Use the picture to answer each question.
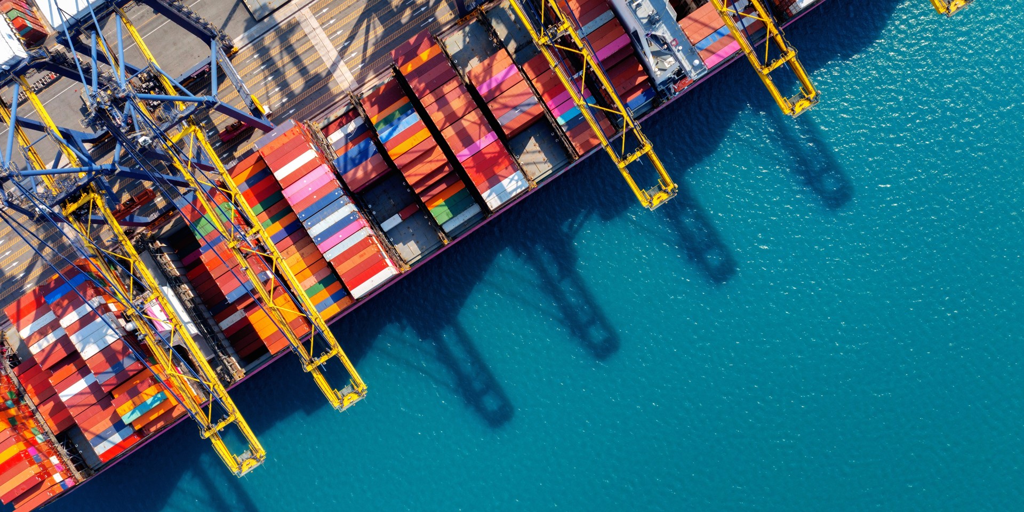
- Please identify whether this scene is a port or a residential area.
port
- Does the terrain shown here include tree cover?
No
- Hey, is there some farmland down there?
No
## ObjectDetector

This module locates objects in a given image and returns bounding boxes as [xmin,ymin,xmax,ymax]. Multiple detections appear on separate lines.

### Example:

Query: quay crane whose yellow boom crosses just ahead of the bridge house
[712,0,824,120]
